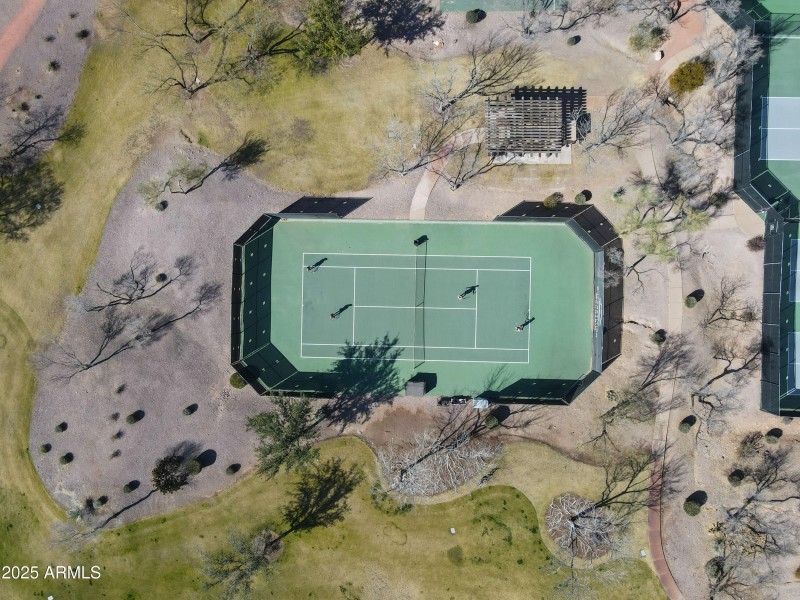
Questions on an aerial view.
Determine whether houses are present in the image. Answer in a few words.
No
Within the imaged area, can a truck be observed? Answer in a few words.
No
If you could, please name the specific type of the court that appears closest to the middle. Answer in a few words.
tennis court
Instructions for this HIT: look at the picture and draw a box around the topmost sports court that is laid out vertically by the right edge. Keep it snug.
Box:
[737,36,800,223]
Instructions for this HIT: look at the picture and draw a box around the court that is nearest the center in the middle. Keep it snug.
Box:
[242,218,594,399]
